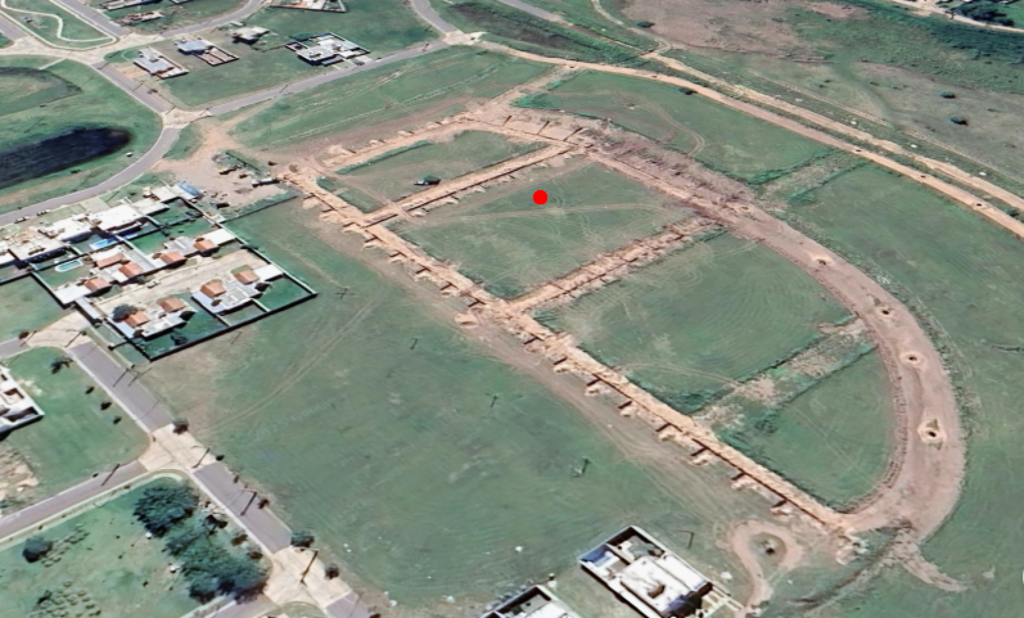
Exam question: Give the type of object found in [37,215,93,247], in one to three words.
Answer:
house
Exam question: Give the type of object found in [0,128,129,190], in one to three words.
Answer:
pond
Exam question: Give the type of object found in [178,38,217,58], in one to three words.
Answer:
house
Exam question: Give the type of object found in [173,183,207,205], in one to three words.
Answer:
shed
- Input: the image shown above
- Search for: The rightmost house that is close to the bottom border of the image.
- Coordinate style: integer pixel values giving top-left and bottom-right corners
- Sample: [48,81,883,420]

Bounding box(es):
[608,545,704,618]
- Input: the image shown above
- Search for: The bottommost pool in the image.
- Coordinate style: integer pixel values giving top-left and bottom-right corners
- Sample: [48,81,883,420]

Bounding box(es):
[587,550,612,568]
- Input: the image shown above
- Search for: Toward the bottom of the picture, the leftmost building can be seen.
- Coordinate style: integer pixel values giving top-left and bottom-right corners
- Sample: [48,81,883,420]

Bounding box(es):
[0,369,49,436]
